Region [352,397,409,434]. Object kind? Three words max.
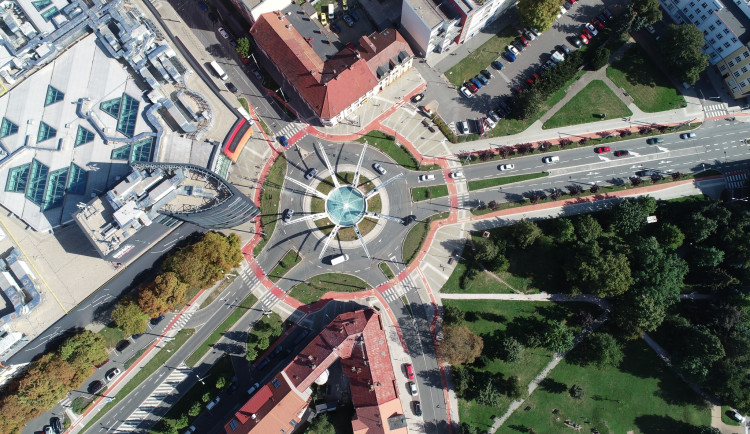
house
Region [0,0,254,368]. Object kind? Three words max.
building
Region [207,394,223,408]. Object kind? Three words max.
vehicle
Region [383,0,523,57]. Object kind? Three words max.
building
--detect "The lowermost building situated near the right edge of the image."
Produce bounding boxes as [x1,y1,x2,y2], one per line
[711,40,750,111]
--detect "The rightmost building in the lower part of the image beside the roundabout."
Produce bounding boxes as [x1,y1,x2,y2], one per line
[342,307,399,407]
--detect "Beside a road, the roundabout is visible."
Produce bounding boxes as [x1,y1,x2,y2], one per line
[286,149,406,267]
